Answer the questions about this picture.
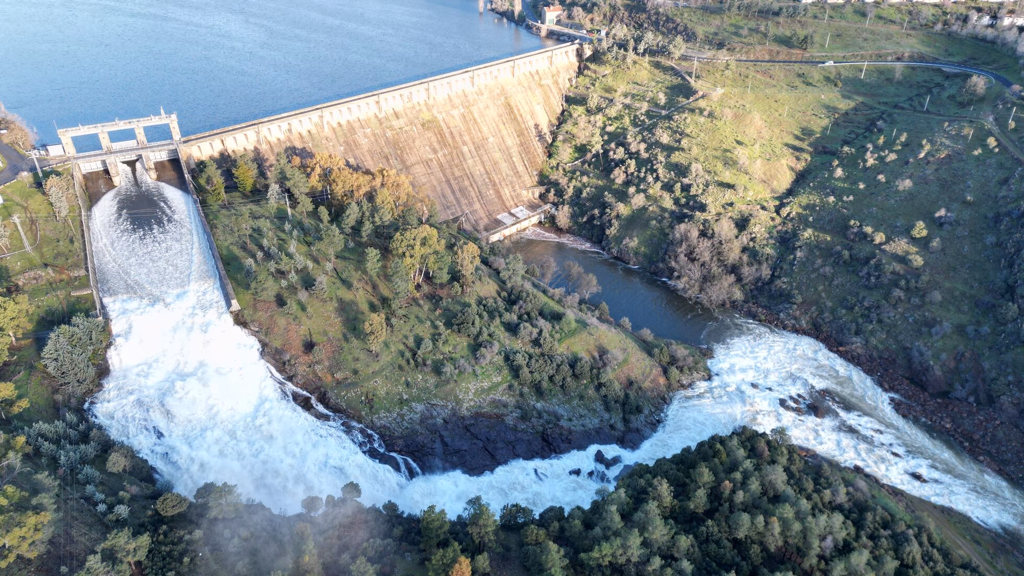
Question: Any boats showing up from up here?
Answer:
No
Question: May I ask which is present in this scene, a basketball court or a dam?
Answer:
dam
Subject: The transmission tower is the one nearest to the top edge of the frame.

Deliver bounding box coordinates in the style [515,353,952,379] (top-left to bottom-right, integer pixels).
[28,151,46,185]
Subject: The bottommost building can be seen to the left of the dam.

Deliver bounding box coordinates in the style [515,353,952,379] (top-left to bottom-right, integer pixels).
[36,145,64,161]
